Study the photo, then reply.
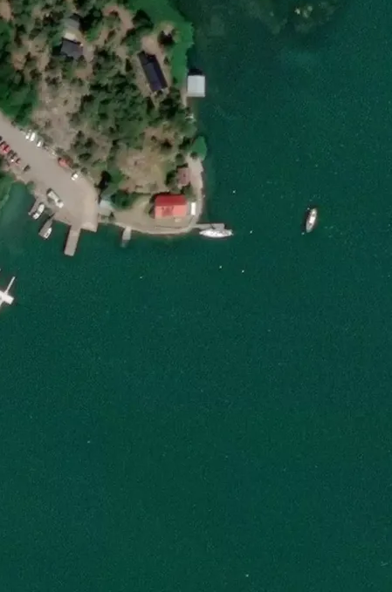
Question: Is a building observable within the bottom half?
No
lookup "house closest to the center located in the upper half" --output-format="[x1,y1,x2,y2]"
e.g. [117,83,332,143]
[156,195,187,219]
